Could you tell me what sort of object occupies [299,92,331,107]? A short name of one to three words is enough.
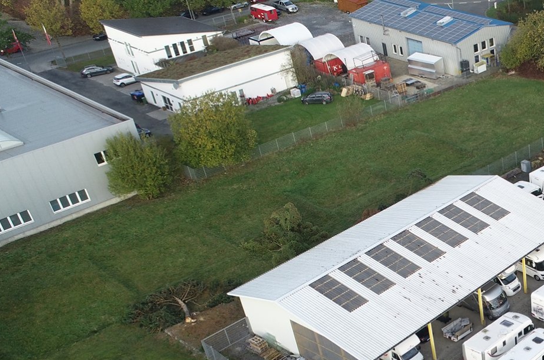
car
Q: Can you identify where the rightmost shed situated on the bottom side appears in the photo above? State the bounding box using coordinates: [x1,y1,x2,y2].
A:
[222,175,544,360]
